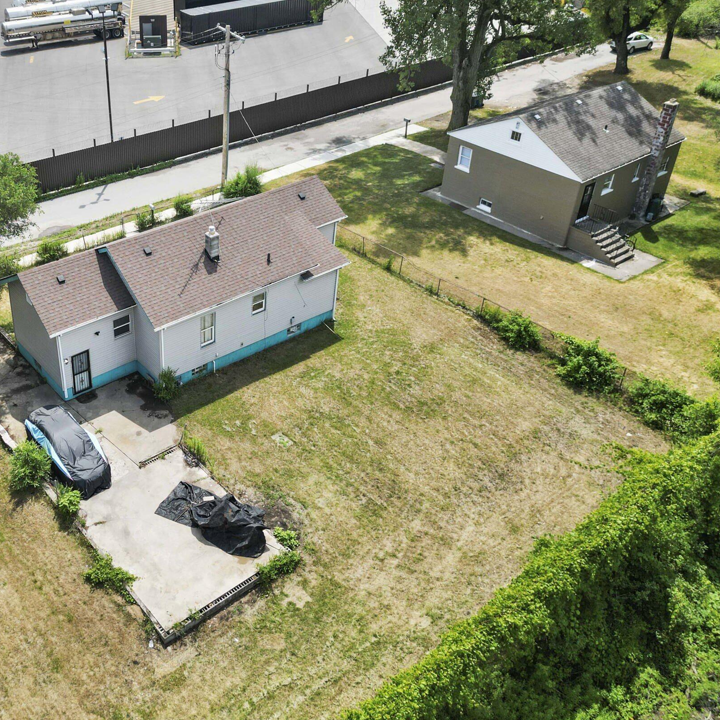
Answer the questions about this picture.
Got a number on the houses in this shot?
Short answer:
two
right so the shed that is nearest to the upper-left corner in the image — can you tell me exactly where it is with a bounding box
[137,15,163,48]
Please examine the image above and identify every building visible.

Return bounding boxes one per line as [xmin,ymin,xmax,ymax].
[439,81,694,266]
[137,15,163,48]
[2,171,354,399]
